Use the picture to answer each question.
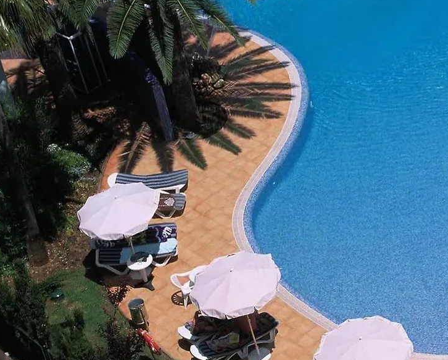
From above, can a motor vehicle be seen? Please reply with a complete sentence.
No, the picture doesn't show any motor vehicle.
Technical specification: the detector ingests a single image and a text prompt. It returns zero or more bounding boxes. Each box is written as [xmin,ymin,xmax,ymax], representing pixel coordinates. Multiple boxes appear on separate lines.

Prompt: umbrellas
[310,314,418,360]
[74,184,167,254]
[190,259,284,335]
